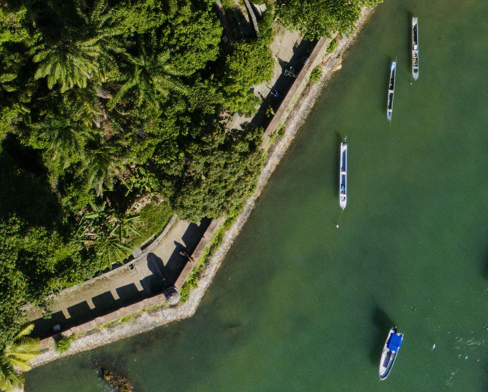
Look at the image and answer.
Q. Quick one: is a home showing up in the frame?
No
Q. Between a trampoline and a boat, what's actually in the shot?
boat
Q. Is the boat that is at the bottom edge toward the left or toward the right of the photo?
right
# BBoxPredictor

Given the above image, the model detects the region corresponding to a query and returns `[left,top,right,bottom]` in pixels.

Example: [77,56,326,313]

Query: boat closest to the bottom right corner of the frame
[377,327,406,381]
